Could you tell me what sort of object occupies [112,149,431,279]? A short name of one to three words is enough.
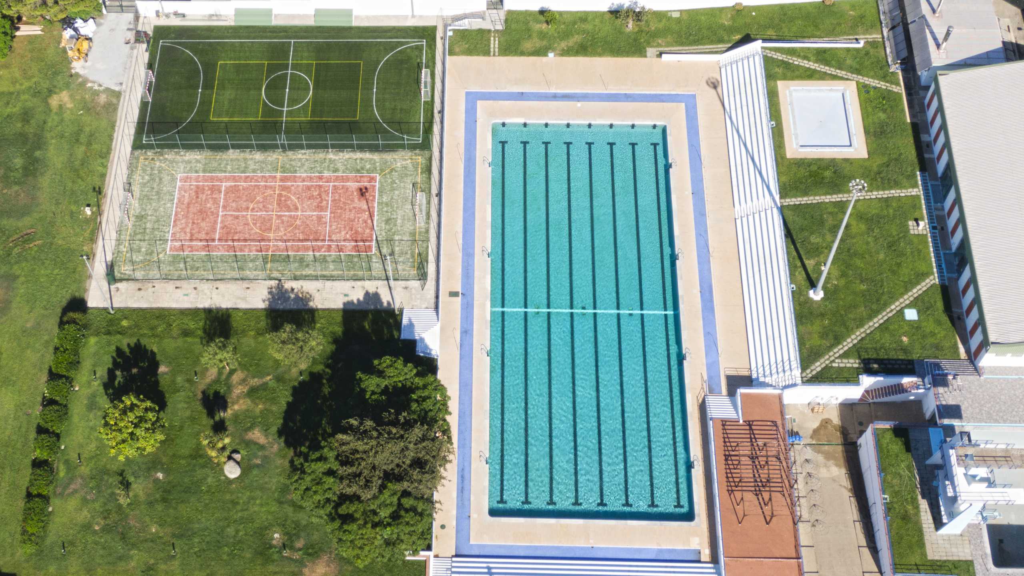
tennis court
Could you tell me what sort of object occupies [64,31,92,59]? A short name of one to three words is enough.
work vehicle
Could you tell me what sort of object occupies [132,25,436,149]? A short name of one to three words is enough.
sports court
